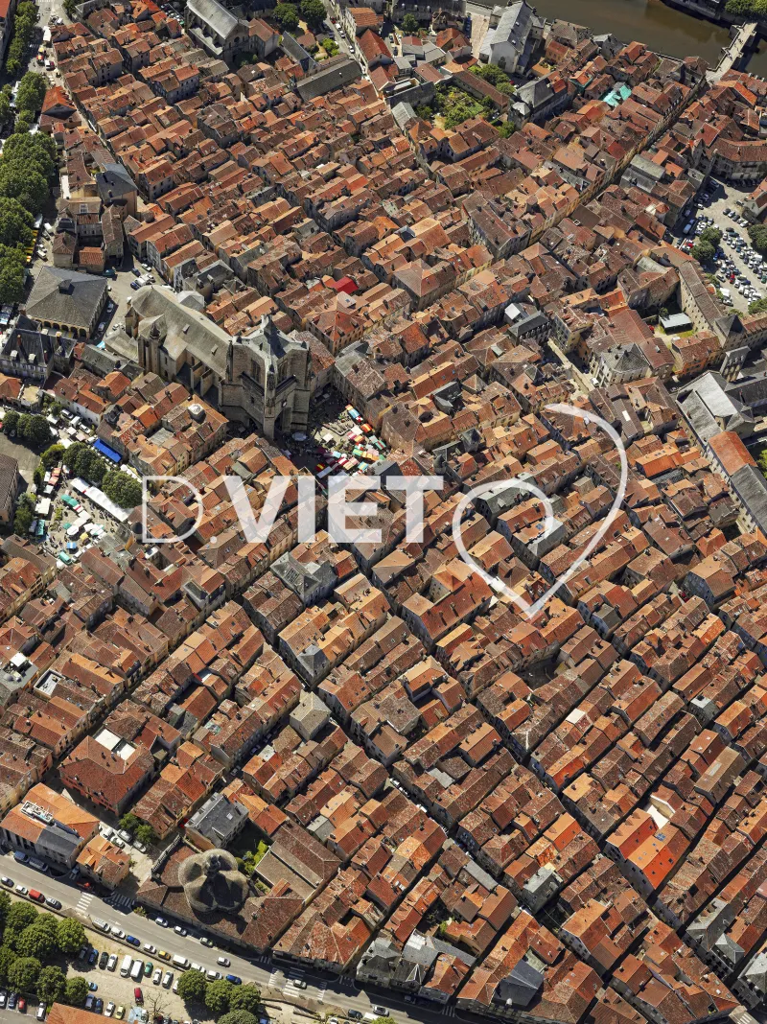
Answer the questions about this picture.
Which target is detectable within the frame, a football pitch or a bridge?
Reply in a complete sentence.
This aerial view contains a bridge.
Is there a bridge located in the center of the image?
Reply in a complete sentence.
No, looking in the center of the image, there is no bridge.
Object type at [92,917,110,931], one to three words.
vehicle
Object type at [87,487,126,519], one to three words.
tent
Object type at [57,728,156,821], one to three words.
building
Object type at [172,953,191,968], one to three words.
vehicle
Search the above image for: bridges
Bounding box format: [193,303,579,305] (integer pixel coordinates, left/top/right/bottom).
[708,20,758,88]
